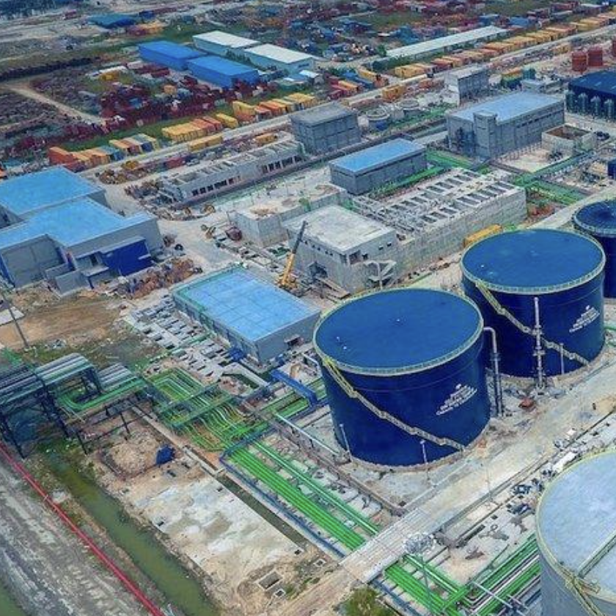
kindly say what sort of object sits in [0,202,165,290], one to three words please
building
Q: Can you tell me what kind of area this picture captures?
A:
industrial area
